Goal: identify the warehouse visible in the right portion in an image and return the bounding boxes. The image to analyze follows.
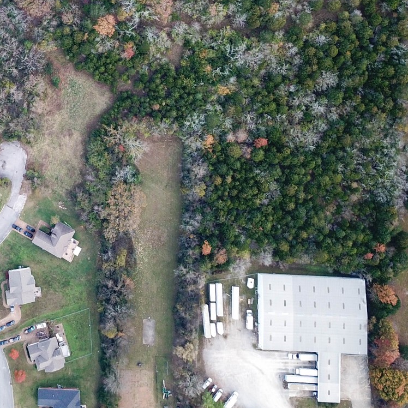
[256,273,368,404]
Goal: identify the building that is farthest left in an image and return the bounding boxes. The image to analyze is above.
[5,267,41,305]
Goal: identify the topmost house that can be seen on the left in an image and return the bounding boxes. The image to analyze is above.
[32,223,82,262]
